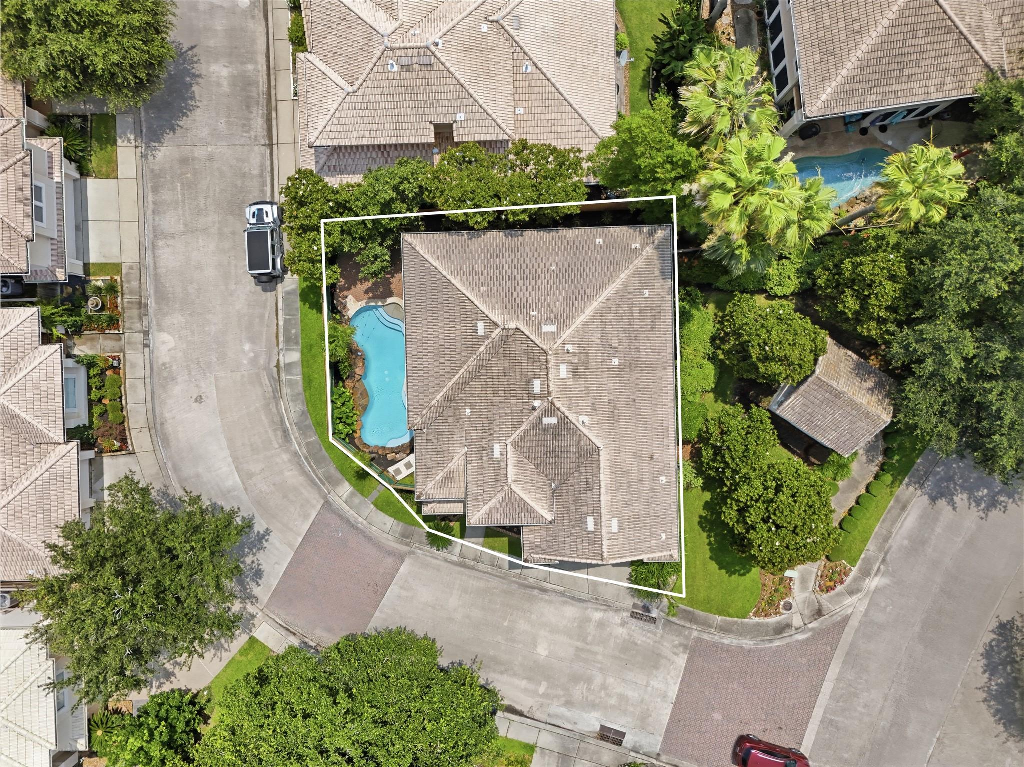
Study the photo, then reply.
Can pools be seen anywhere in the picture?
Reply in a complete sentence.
Yes, this view includes a pool.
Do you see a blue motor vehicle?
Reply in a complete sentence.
No, no blue motor vehicle is visible in the view.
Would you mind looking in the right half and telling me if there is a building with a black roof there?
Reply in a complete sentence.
No, in the right half there is no building with a black roof.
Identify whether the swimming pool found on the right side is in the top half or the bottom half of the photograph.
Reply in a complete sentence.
The top half of the photo is where the swimming pool found on the right side is.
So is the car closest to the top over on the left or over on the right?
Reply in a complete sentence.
The car closest to the top is on the left side of the image.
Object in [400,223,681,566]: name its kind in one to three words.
house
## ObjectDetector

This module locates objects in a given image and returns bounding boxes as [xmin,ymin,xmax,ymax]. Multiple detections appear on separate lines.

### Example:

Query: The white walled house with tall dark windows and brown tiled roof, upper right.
[766,0,1024,137]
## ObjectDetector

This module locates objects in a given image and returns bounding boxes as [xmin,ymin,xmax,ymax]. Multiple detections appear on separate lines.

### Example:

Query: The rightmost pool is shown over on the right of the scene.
[753,147,916,205]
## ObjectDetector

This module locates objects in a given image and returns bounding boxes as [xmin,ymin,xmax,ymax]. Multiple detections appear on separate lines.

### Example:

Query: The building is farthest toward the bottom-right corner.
[769,337,899,460]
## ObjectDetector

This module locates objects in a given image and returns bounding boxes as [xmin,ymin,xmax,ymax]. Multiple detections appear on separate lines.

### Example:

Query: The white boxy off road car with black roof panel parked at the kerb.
[243,199,285,282]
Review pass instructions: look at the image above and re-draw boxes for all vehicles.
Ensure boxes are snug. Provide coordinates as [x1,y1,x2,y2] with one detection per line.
[243,199,285,282]
[731,738,815,767]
